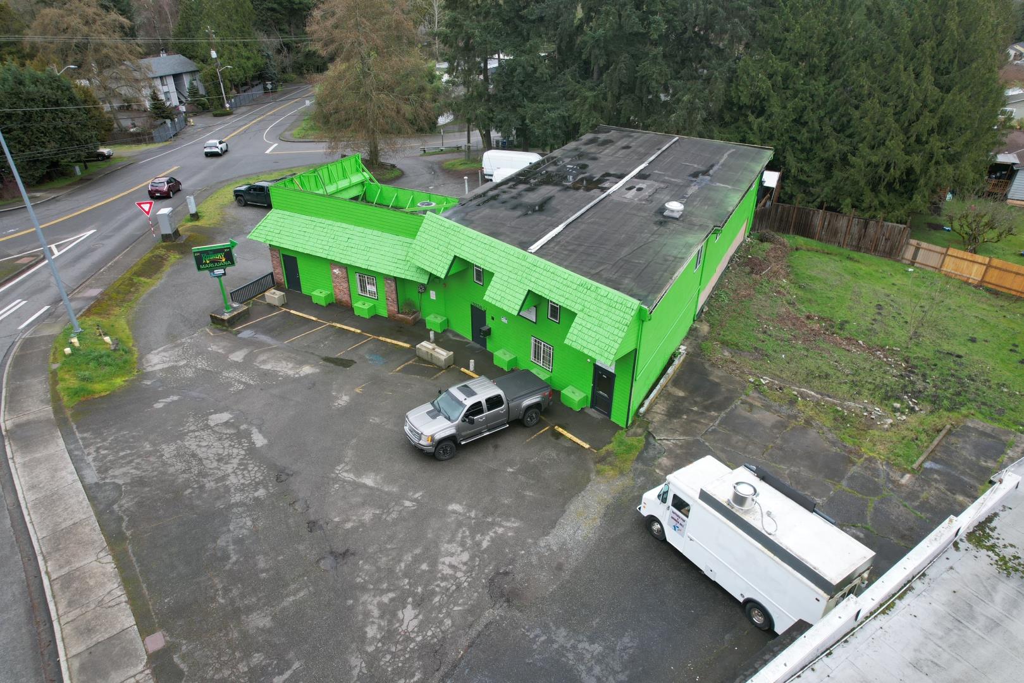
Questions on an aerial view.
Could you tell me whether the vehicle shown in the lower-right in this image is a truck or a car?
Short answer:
truck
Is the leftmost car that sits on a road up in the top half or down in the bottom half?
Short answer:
top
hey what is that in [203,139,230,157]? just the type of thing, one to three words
car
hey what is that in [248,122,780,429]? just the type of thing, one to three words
building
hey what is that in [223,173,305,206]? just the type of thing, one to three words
truck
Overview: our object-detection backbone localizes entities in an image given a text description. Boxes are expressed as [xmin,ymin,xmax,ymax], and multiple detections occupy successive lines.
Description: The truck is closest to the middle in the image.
[398,367,558,459]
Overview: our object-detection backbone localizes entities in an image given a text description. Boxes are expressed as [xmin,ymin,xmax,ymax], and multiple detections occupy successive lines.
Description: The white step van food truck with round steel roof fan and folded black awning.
[637,453,885,636]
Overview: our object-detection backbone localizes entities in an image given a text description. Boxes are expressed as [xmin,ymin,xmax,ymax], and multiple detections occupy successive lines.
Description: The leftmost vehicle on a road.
[145,175,180,200]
